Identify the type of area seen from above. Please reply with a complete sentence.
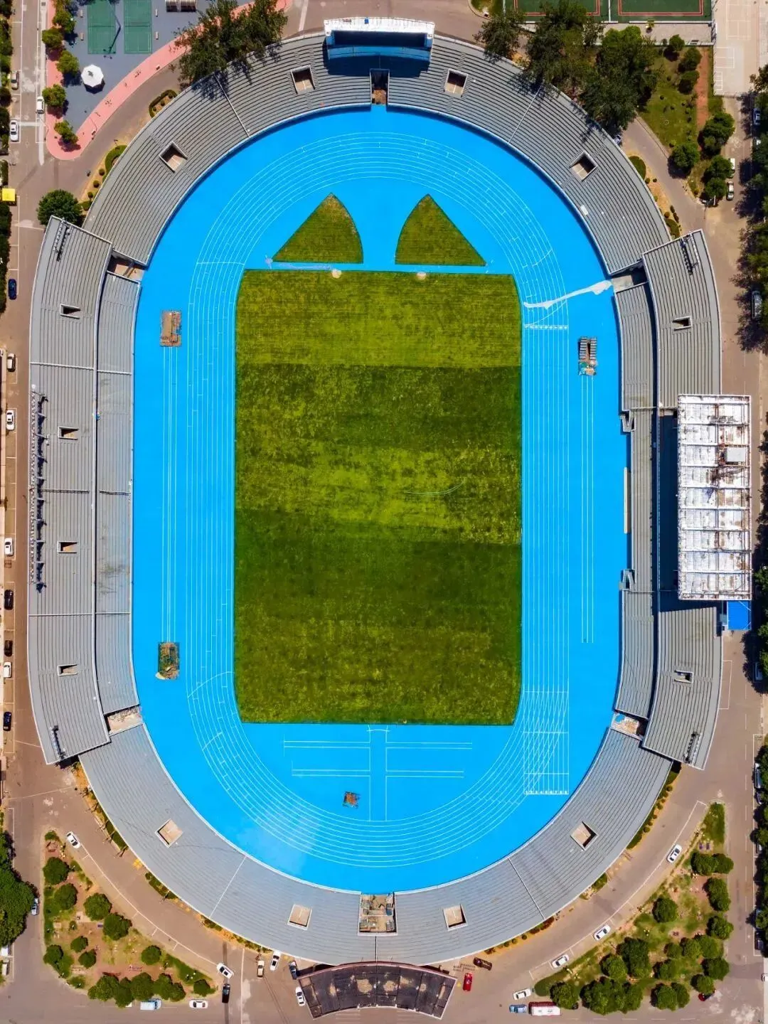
This image shows a sports ground.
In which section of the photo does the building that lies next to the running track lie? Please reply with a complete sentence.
The building that lies next to the running track appears toward the bottom of the photo.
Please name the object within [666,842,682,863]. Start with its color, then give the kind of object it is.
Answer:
white car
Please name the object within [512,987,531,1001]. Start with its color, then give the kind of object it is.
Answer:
white car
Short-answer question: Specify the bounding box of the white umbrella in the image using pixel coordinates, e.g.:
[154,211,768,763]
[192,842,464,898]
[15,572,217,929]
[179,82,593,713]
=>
[82,65,104,87]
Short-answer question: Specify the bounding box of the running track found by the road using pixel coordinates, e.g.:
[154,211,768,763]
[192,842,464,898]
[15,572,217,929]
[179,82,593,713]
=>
[135,107,629,889]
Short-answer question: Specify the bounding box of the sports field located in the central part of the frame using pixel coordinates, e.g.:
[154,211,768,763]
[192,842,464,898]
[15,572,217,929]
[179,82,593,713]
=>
[233,269,523,726]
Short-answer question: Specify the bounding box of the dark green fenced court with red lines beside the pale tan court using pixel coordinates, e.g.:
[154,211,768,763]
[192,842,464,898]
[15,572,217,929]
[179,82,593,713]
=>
[611,0,711,21]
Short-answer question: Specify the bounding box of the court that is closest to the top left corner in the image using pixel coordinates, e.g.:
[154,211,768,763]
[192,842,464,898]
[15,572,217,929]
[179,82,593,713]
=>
[85,0,115,54]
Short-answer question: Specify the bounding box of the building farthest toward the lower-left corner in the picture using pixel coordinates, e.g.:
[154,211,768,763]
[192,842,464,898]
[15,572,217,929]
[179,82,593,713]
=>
[297,963,457,1020]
